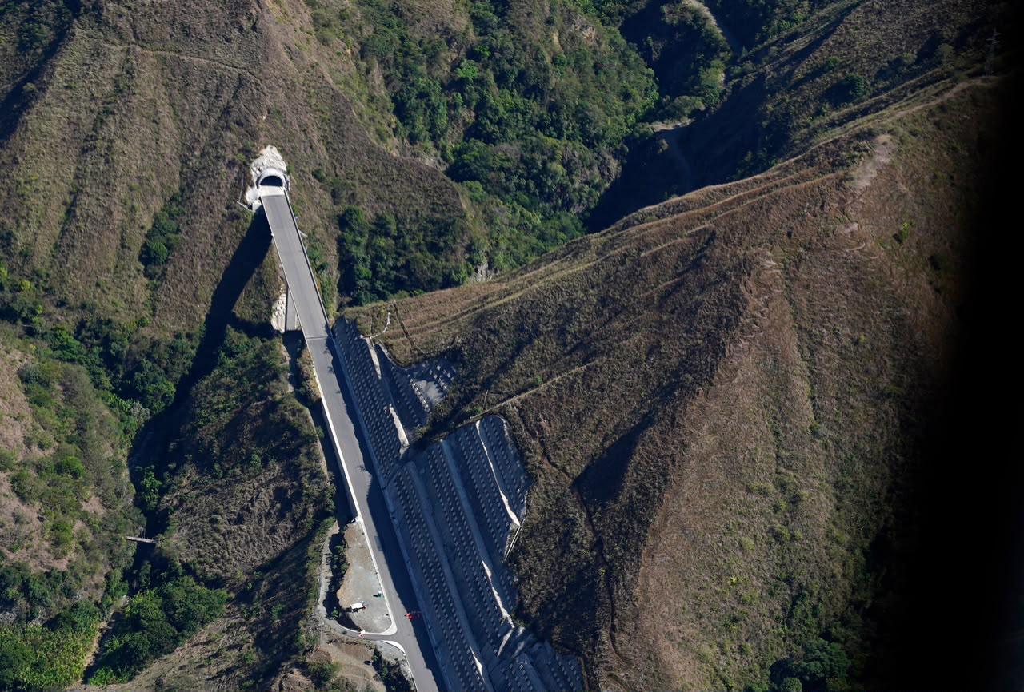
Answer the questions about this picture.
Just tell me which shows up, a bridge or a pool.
bridge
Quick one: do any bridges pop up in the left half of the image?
Yes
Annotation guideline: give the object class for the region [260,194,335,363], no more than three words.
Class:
bridge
